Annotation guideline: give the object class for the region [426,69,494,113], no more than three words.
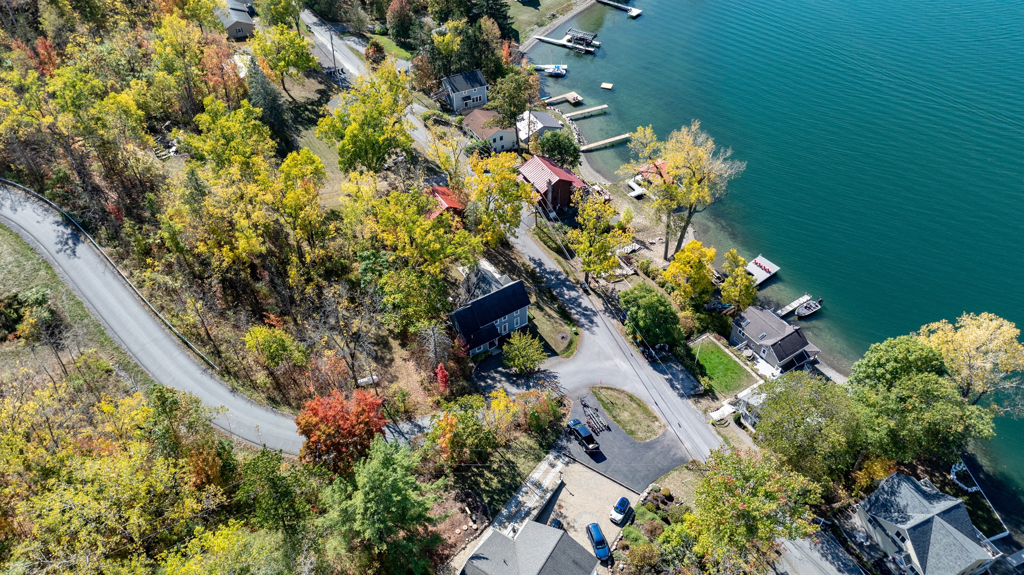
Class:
house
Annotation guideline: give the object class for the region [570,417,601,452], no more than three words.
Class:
truck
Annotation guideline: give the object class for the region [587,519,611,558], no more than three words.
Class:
car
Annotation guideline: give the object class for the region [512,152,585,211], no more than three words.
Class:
house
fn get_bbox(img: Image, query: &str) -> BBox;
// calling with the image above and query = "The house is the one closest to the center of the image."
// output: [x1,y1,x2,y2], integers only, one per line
[445,268,531,355]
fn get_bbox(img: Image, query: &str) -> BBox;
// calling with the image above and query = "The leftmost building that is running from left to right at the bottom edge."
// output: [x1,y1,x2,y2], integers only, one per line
[458,516,601,575]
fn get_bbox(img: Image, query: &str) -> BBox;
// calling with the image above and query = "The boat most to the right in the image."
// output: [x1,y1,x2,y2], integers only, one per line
[795,299,825,314]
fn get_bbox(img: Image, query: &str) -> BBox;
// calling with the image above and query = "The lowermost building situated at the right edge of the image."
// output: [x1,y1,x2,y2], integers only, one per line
[848,471,1012,575]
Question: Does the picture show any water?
Yes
